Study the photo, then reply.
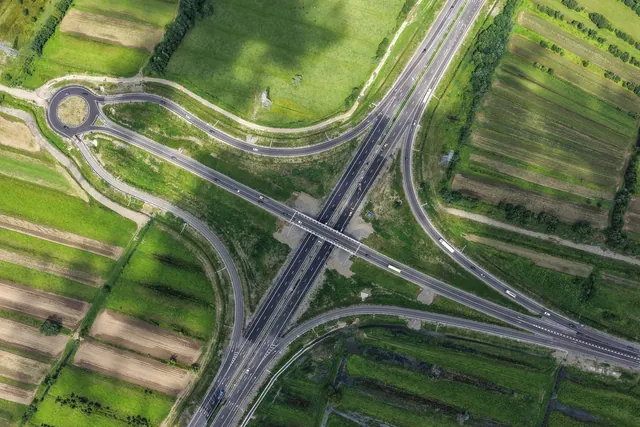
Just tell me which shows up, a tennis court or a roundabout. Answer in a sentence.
The one in the frame is a roundabout.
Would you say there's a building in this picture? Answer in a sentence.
No, the photo shows no building.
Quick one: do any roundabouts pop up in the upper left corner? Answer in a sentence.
Yes, the scene does show a roundabout in the upper left corner.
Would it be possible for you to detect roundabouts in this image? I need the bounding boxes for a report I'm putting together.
[46,85,98,137]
